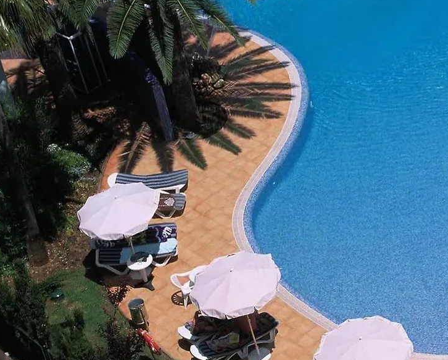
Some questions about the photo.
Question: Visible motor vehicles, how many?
0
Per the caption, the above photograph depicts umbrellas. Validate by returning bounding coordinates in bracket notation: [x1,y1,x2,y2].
[310,314,418,360]
[190,259,284,335]
[74,184,167,254]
